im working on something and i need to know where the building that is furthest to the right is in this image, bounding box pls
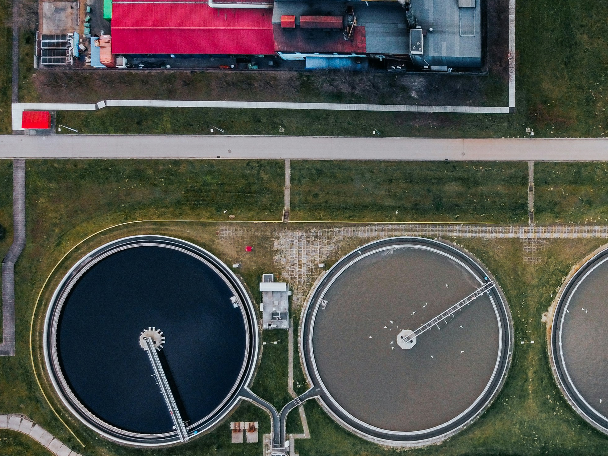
[407,0,483,71]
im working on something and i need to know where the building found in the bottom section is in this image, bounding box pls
[260,275,294,329]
